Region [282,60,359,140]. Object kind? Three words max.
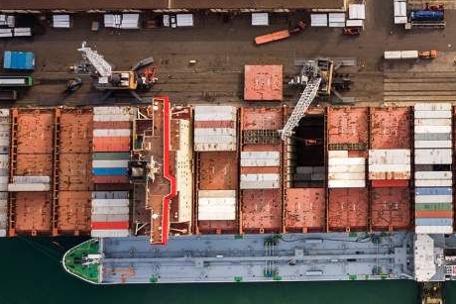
crane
